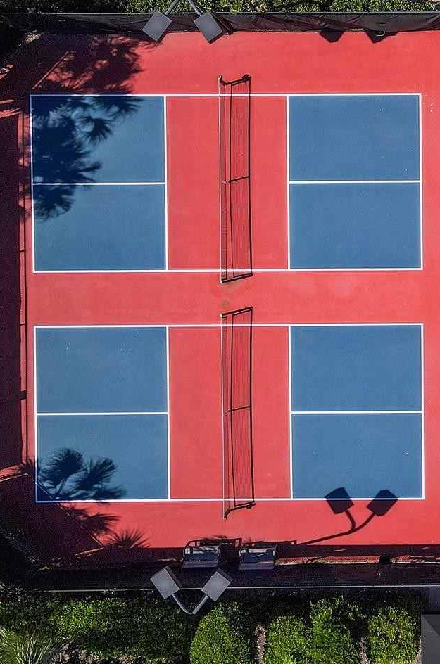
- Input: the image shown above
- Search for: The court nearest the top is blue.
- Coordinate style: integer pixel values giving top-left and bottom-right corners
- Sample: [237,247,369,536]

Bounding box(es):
[31,92,422,273]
